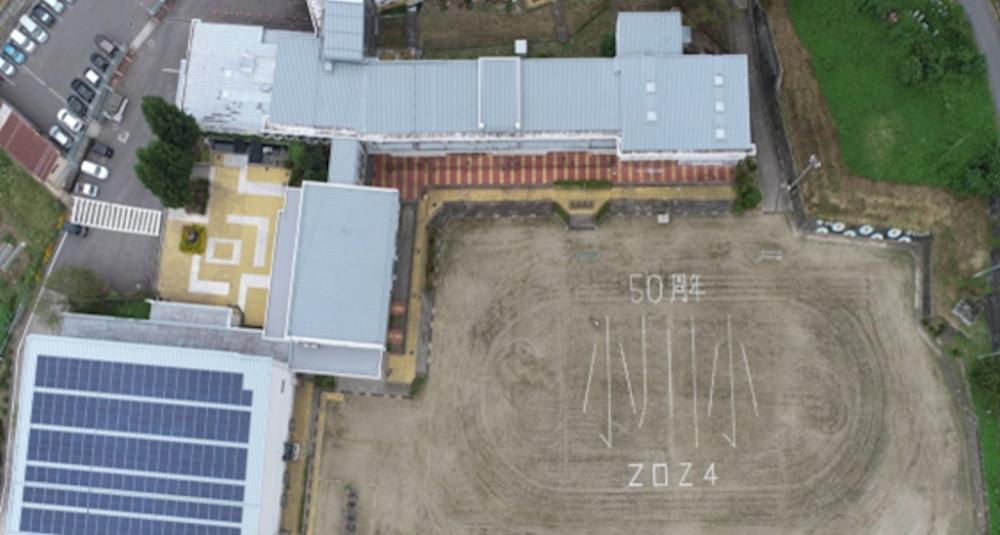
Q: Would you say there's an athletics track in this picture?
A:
Yes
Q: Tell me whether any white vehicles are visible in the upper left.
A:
Yes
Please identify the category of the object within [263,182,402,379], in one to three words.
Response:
building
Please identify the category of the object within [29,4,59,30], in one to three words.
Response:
car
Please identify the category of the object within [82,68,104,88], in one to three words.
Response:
car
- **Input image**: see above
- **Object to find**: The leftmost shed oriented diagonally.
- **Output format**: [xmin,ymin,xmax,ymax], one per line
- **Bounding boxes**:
[0,100,62,182]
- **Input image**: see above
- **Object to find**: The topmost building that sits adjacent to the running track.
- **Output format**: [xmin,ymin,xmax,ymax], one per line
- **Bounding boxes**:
[176,0,756,170]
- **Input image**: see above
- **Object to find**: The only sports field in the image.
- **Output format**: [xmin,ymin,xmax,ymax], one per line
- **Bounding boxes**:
[317,211,976,535]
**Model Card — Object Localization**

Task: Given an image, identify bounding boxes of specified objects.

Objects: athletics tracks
[466,287,903,508]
